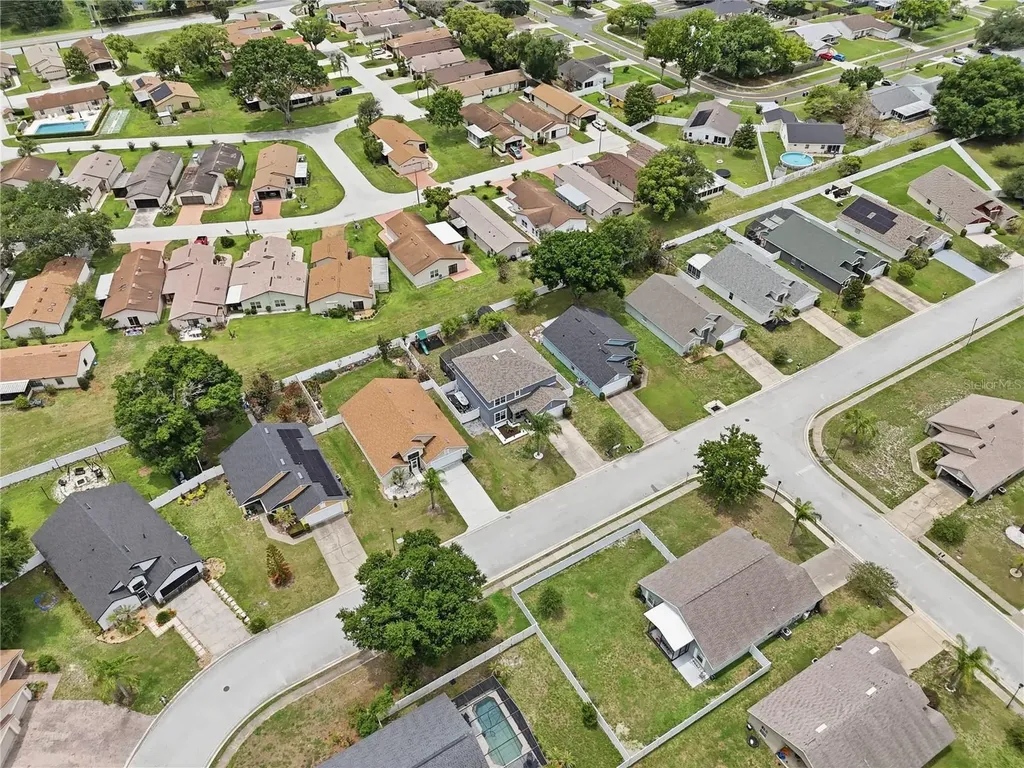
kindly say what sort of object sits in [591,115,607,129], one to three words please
car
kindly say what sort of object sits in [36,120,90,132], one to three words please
swimming pool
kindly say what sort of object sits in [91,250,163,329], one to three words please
house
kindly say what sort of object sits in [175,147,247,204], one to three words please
house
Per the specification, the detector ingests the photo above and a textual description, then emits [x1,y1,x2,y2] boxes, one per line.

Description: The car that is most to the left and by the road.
[195,232,208,248]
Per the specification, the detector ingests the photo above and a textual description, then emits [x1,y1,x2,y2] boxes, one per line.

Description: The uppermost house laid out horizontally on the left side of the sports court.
[29,86,107,121]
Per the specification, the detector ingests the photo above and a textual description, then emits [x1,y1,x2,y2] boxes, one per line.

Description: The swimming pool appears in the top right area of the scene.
[781,151,815,172]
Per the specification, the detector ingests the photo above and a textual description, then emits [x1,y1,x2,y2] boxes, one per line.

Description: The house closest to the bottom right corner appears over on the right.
[741,637,957,768]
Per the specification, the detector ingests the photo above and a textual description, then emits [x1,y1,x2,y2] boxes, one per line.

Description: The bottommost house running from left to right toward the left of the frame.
[311,693,493,768]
